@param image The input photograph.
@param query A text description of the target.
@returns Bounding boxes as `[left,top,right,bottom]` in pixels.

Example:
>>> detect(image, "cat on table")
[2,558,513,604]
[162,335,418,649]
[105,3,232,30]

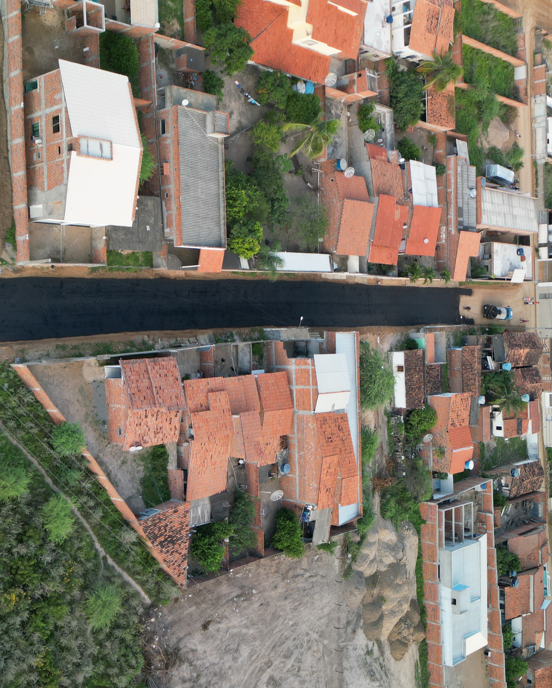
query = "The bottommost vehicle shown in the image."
[475,304,515,323]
